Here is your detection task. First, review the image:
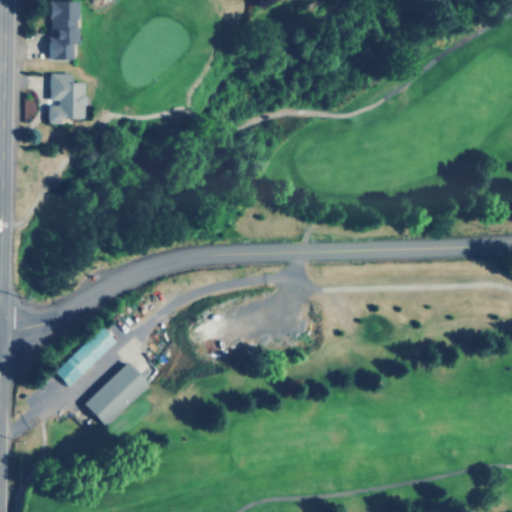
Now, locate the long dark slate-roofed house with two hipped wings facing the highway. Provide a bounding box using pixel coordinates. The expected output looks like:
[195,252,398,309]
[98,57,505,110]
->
[49,0,83,60]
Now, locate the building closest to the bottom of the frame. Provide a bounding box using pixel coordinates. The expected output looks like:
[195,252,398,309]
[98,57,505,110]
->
[86,364,149,427]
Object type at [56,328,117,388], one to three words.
barn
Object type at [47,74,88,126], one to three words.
house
